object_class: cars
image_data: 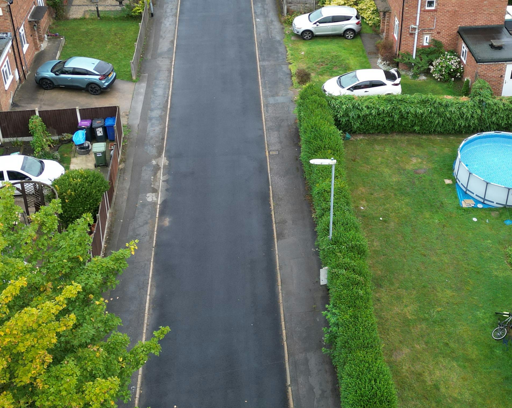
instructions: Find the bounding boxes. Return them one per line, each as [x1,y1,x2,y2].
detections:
[0,152,64,195]
[35,52,120,93]
[320,64,405,97]
[288,4,363,39]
